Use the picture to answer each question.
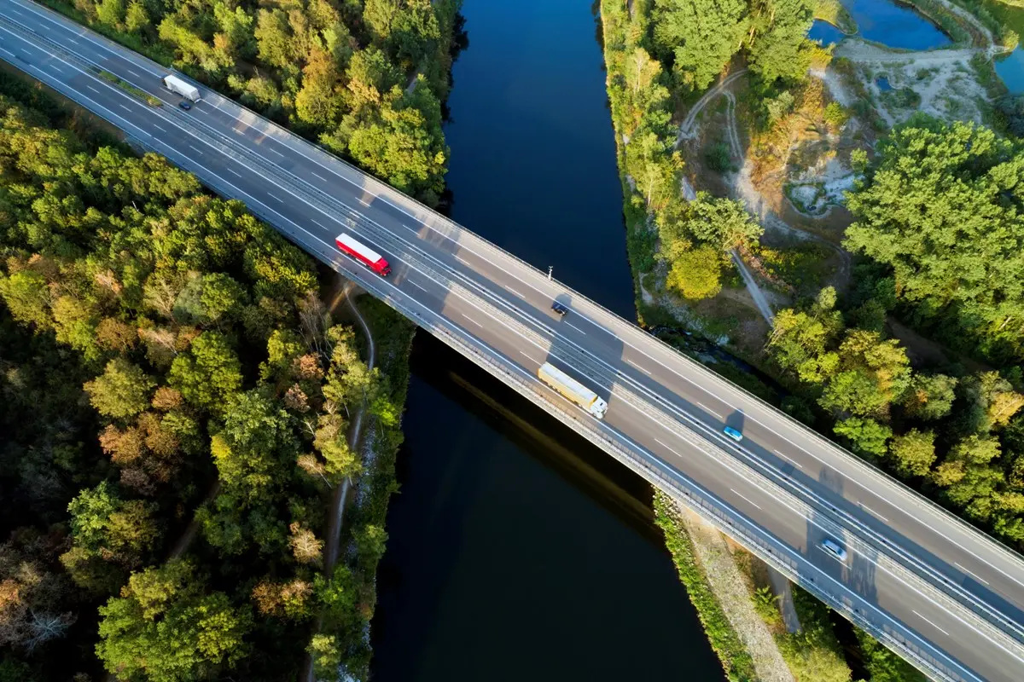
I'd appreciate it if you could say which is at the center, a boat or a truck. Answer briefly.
truck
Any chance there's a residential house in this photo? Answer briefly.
No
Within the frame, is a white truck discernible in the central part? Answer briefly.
Yes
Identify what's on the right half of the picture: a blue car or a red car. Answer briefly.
blue car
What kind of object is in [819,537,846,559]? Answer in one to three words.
car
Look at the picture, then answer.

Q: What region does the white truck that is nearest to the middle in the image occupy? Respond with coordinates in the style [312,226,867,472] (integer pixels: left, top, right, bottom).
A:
[540,362,609,418]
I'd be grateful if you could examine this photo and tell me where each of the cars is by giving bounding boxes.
[550,303,570,317]
[178,101,191,109]
[721,425,742,442]
[819,537,846,559]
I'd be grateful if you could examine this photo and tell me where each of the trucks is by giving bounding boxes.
[162,73,203,101]
[540,362,609,418]
[335,232,389,276]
